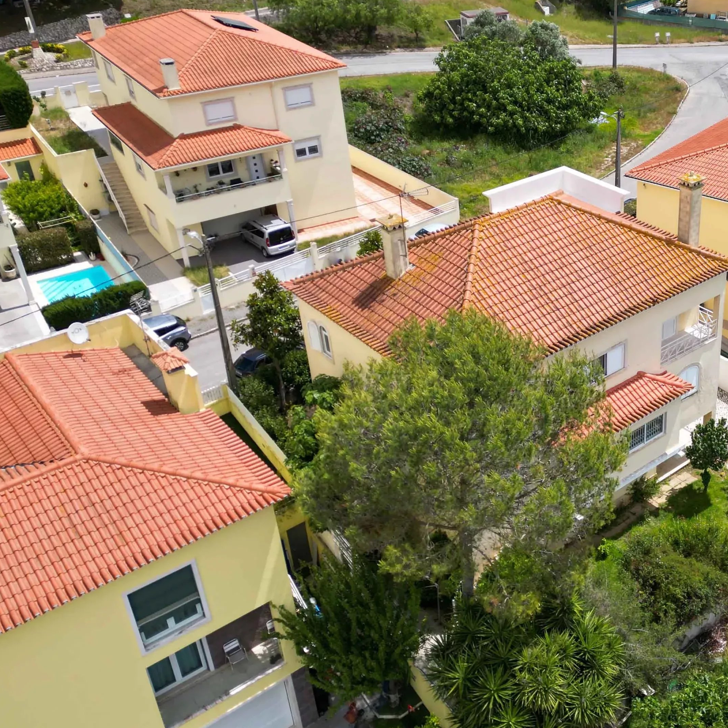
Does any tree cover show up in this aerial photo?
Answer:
Yes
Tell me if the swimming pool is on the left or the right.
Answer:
left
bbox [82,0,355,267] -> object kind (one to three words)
house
